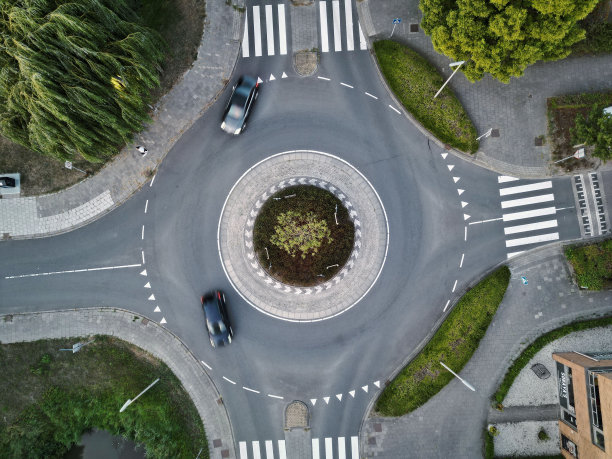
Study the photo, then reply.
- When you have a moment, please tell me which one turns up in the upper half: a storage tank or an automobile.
automobile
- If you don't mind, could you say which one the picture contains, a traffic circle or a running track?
traffic circle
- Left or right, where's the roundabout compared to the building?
left of it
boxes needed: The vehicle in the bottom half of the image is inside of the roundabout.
[200,290,232,347]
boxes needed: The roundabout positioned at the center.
[145,82,461,397]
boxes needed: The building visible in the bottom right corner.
[553,353,612,459]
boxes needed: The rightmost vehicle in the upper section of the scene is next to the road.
[222,78,258,136]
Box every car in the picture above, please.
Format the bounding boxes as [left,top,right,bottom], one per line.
[200,290,232,347]
[222,78,258,136]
